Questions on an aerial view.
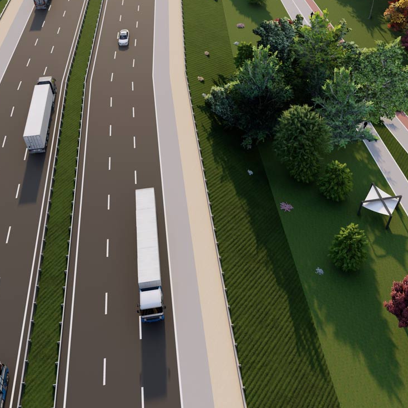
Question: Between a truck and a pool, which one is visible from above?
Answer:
truck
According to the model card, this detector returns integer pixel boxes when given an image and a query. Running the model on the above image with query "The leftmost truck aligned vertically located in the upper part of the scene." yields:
[22,75,55,151]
